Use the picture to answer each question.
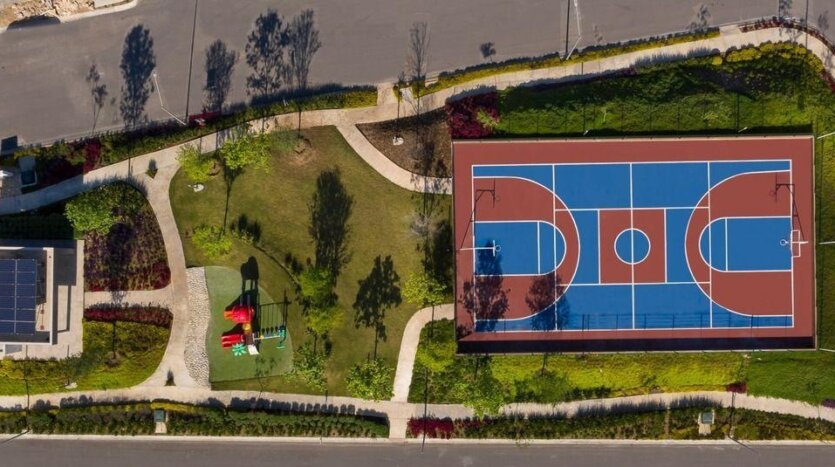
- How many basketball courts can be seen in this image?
1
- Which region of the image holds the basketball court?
right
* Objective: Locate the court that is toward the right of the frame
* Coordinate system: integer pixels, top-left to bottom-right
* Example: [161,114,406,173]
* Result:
[453,137,815,353]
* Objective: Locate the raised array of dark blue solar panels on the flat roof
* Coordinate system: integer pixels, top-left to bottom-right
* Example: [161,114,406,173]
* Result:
[0,258,40,336]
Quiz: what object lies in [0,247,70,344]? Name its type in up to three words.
building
